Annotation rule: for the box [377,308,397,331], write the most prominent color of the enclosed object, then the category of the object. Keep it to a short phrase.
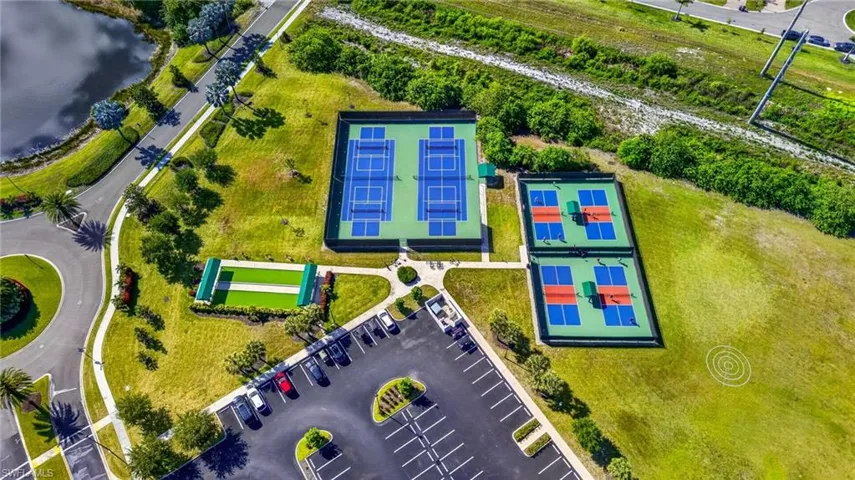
white car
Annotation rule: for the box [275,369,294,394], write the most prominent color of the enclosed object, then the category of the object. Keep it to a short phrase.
red car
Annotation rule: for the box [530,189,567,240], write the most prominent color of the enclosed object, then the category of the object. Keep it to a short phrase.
blue sports court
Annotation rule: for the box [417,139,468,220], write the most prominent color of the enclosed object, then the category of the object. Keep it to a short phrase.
blue tennis court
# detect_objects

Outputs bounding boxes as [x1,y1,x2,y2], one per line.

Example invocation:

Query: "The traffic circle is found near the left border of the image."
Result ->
[0,227,98,376]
